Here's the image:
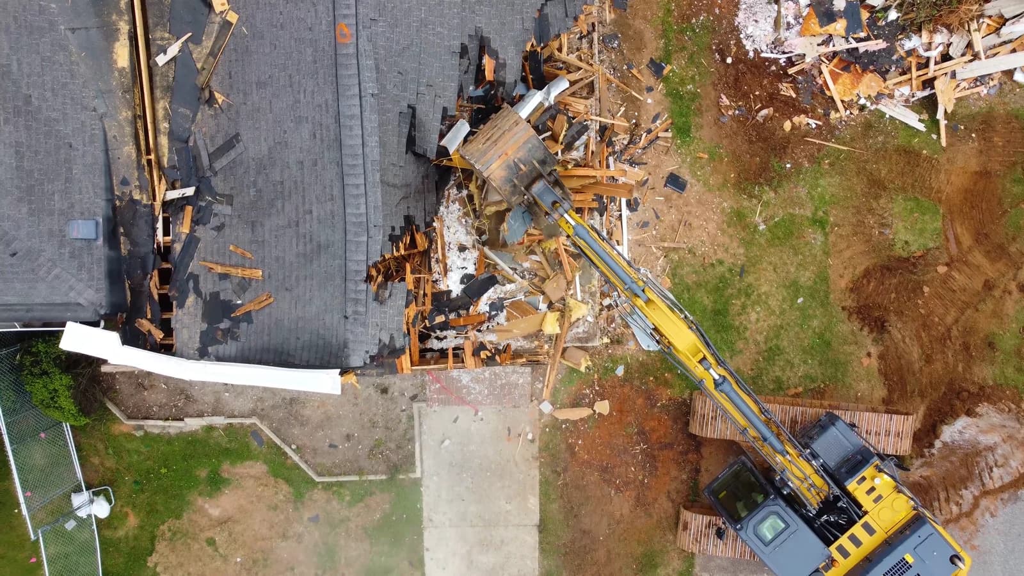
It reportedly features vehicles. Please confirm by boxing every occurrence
[449,105,974,576]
